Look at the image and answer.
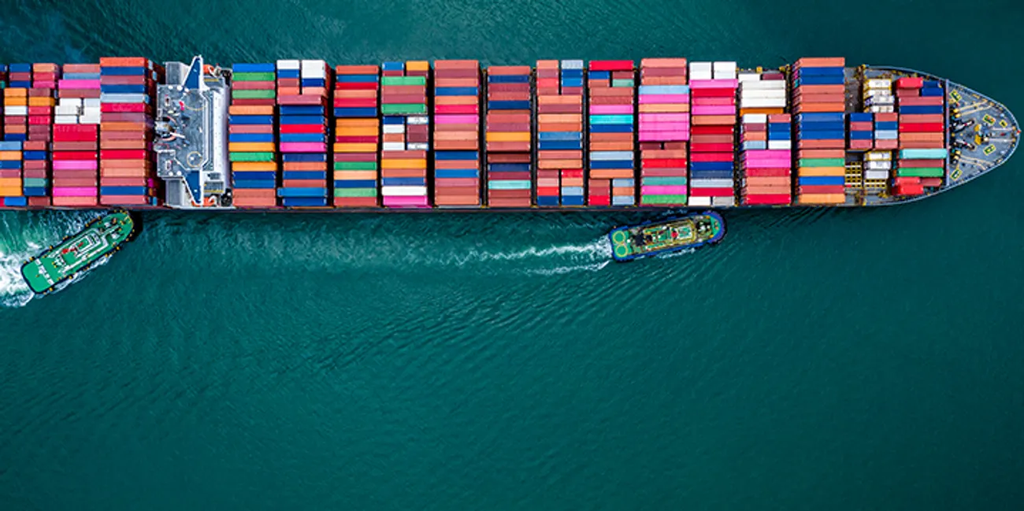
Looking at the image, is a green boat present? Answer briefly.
Yes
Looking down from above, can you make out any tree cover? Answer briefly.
No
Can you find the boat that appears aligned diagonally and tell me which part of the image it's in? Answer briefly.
left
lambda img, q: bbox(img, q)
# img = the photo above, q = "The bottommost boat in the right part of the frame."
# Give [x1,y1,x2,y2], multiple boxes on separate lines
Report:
[608,212,729,263]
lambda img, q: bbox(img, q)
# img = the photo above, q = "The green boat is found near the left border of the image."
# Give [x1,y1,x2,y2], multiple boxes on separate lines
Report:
[21,211,137,293]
